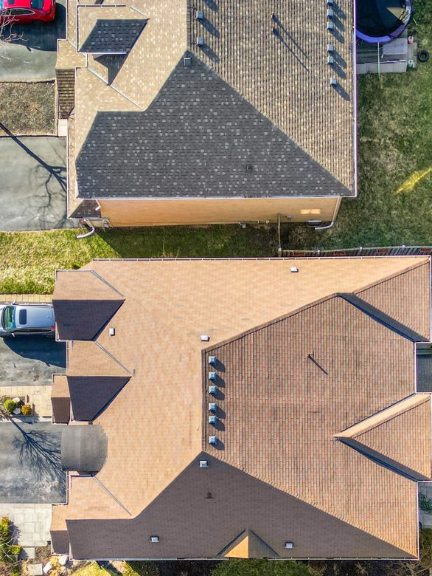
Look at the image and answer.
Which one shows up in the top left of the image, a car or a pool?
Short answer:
car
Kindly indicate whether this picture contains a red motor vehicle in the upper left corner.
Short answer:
Yes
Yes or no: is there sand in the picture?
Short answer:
No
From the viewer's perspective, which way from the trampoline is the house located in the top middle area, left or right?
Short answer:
to the left of it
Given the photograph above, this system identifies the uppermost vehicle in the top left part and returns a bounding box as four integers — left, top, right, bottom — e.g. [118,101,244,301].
[0,0,54,30]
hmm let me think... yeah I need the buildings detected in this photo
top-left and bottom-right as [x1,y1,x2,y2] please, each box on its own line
[54,0,356,237]
[50,255,432,561]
